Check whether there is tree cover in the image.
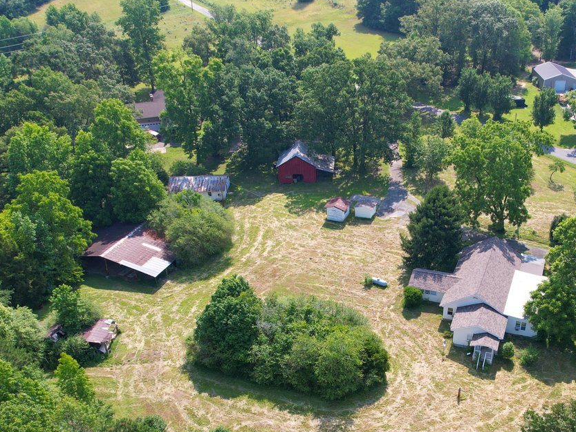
Yes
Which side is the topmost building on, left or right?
right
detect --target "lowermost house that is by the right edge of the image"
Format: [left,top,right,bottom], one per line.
[410,234,553,370]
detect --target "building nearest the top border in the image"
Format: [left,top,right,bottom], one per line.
[537,62,576,92]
